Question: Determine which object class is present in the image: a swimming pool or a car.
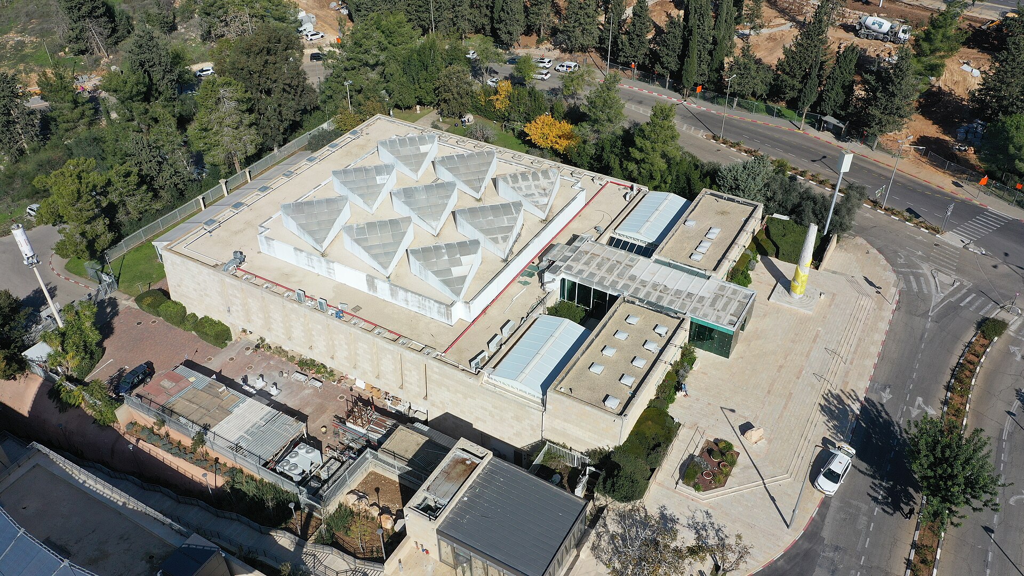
car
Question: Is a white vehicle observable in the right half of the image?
Yes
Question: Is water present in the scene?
No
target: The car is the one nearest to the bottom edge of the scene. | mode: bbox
[817,440,861,495]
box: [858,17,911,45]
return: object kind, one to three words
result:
truck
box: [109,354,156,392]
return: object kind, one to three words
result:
car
